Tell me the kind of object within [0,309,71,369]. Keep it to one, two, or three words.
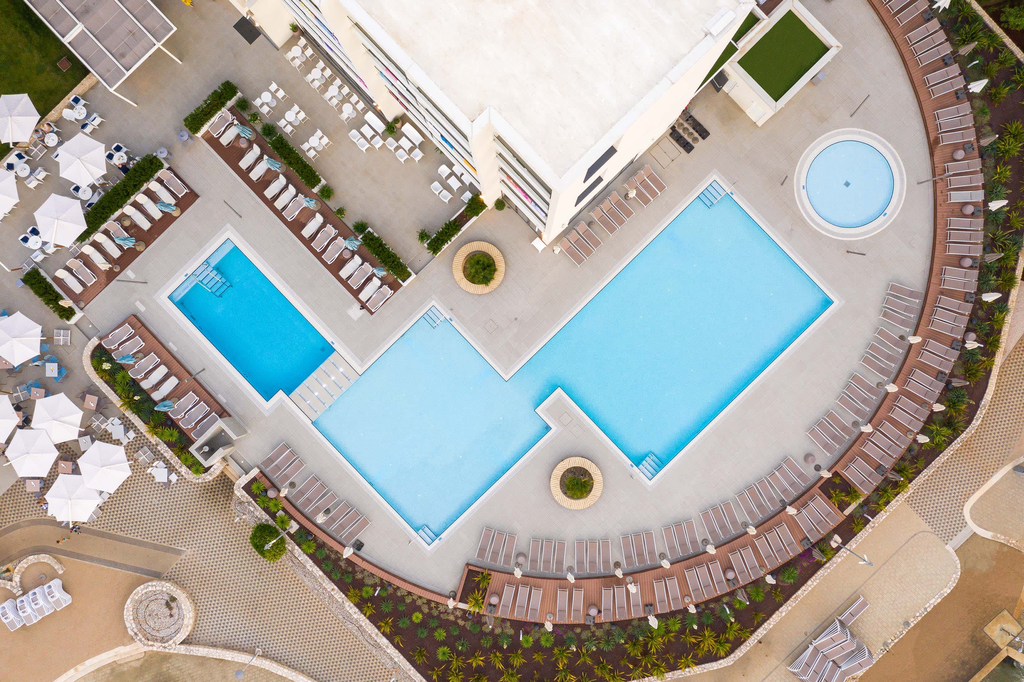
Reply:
umbrella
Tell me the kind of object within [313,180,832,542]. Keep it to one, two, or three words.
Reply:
swimming pool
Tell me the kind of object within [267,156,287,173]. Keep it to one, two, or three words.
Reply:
umbrella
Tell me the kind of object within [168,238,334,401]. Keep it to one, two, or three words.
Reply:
swimming pool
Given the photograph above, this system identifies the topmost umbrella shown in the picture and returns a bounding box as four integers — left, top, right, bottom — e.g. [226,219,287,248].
[922,0,952,22]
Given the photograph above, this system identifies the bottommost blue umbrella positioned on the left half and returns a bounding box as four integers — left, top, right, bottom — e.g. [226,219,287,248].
[154,398,180,410]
